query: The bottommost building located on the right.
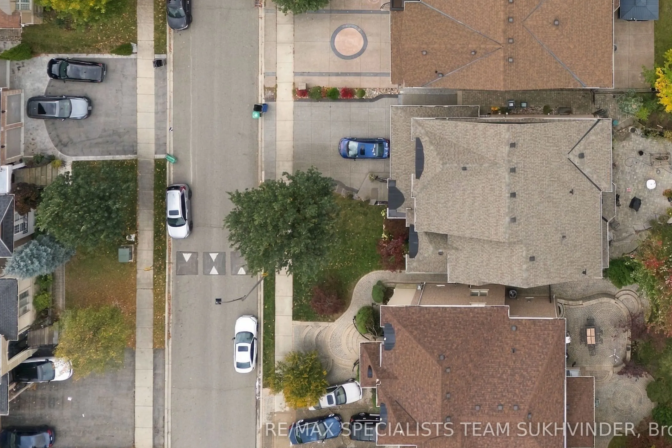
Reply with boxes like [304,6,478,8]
[359,281,596,448]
